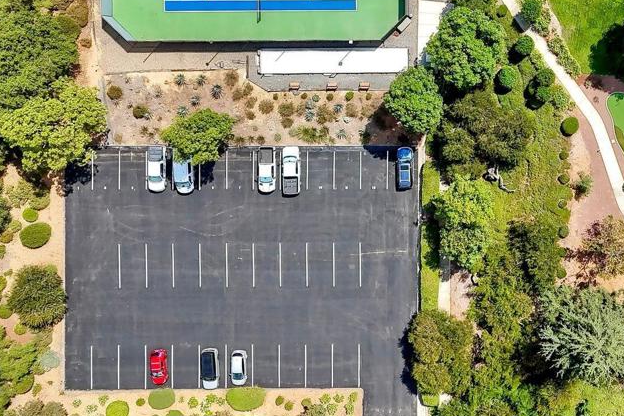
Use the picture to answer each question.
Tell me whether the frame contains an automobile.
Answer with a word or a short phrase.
Yes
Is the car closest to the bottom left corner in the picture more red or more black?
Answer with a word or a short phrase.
red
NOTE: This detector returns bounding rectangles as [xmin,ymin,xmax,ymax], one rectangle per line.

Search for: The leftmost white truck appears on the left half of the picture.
[145,146,167,192]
